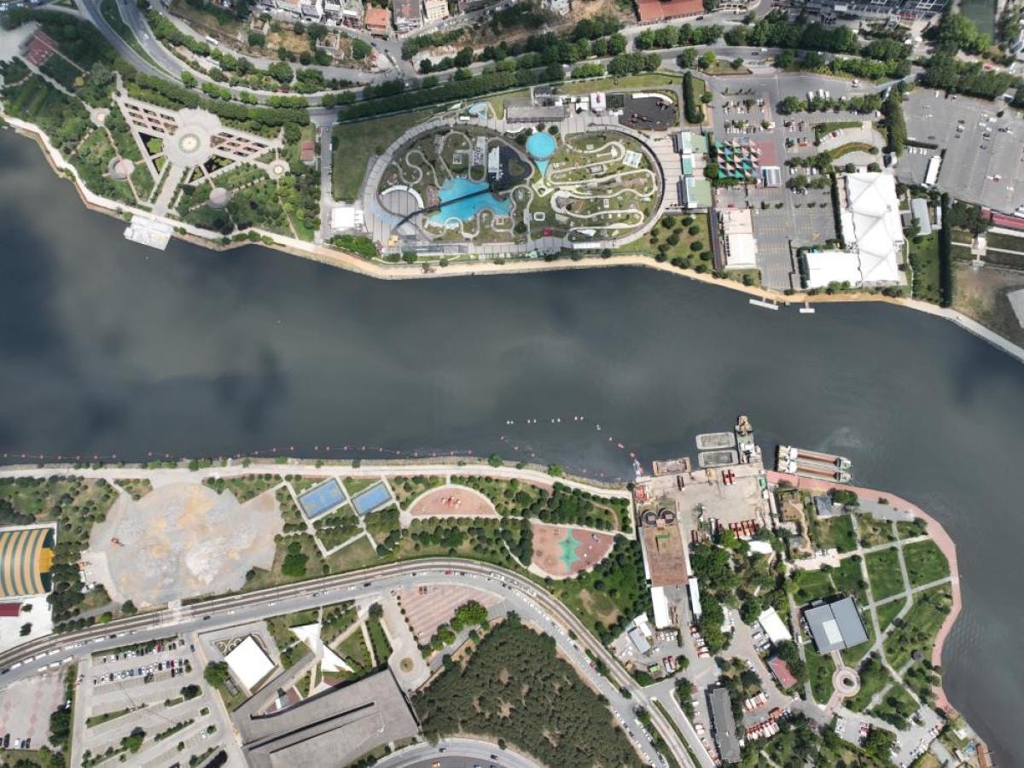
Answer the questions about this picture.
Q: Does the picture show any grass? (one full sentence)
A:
Yes, grass shows up in the scene.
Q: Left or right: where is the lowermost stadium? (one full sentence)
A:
The lowermost stadium sits on the left side.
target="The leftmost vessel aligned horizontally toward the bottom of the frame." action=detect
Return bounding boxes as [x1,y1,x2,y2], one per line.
[652,457,691,476]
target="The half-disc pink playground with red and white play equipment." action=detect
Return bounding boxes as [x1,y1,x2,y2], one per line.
[408,484,499,516]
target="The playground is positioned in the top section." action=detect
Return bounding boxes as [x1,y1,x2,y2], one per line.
[618,93,676,129]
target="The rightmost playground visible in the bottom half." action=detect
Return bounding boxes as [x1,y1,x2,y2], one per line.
[532,524,614,577]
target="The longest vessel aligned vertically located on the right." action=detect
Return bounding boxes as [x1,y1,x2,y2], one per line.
[734,415,763,463]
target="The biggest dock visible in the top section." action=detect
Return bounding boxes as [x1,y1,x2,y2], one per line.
[123,215,173,251]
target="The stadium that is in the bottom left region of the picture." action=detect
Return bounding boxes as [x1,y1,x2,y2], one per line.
[0,526,60,597]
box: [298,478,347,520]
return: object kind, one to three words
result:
basketball court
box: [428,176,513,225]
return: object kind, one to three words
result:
swimming pool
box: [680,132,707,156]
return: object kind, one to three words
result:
building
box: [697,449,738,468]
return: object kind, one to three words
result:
ship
